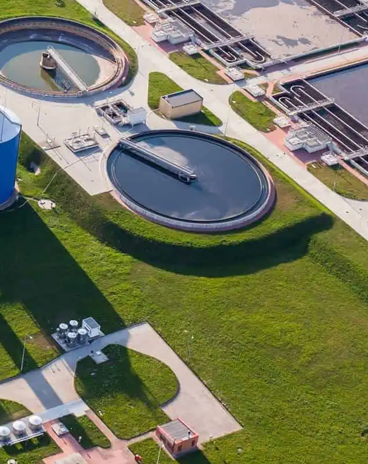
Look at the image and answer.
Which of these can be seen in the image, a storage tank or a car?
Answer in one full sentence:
This aerial view contains a storage tank.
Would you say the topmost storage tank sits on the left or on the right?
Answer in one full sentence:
The topmost storage tank sits on the left side.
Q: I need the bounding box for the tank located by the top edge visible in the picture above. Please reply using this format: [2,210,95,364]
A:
[0,12,130,99]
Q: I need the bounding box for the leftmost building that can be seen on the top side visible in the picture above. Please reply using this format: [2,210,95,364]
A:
[118,100,147,124]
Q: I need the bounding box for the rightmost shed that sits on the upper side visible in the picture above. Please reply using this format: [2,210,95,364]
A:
[160,88,204,118]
